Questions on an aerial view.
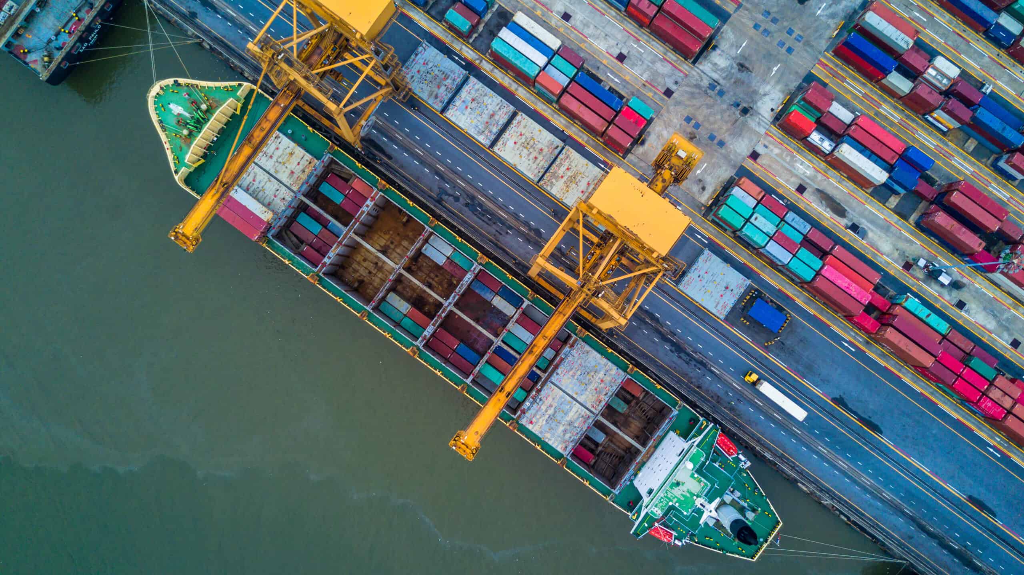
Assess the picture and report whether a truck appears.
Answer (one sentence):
Yes, you can see a truck in this photo.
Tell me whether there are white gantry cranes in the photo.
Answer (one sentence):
No, no white gantry crane is visible in the scene.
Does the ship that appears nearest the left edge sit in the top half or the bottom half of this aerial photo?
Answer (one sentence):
The ship that appears nearest the left edge sits in the top half of the picture.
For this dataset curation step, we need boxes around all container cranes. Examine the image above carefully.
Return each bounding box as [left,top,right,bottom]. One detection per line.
[451,133,703,463]
[170,0,417,252]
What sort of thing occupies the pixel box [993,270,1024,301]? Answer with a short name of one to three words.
shipping container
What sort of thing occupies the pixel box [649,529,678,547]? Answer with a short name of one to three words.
boat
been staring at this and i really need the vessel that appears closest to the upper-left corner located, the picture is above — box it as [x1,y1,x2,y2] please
[0,0,114,76]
